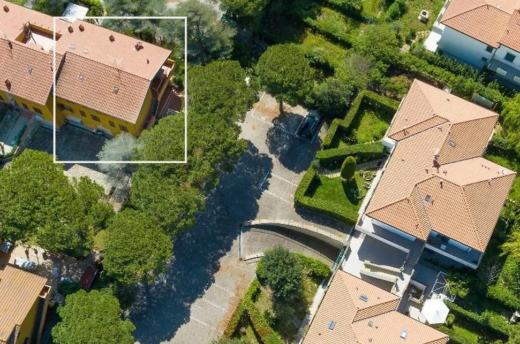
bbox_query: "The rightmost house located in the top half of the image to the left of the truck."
[54,18,180,140]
